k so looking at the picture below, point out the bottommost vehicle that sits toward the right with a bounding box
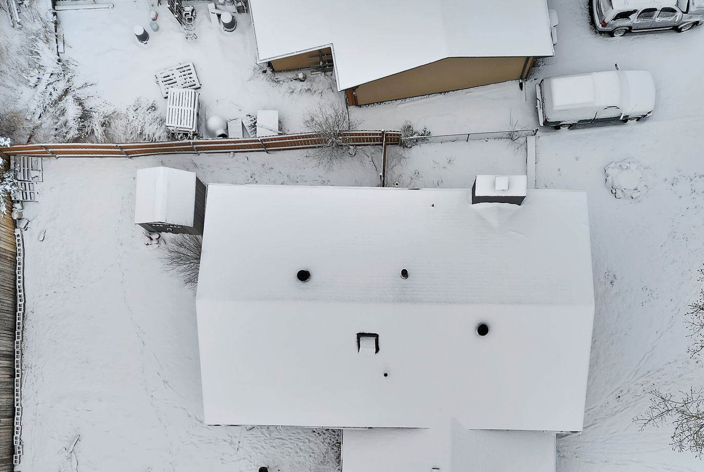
[537,66,660,132]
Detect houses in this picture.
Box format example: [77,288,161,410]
[195,173,595,472]
[244,0,559,108]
